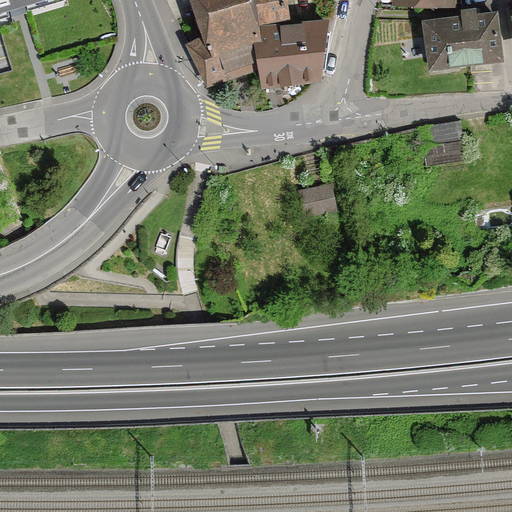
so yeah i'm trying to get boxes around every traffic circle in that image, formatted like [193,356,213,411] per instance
[92,62,202,172]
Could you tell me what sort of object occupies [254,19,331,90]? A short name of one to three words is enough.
house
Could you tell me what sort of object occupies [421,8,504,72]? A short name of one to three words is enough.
house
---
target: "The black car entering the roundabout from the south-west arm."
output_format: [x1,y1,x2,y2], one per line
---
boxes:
[128,171,149,192]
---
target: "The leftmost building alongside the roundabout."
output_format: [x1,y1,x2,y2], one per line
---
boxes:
[186,0,262,87]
